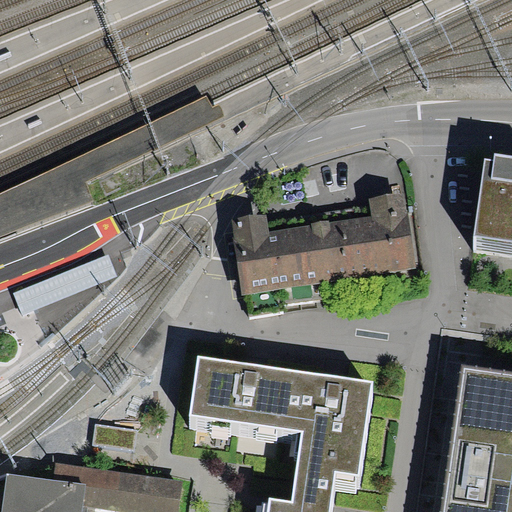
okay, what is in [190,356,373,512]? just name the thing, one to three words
building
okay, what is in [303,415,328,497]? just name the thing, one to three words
solar array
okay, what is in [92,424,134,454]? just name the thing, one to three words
shed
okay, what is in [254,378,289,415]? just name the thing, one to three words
solar array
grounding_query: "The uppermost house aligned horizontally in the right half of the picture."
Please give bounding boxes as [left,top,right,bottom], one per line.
[232,183,417,296]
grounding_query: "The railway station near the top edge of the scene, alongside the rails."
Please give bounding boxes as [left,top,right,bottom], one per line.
[0,0,505,190]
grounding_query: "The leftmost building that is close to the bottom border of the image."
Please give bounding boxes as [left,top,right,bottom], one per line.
[2,474,86,512]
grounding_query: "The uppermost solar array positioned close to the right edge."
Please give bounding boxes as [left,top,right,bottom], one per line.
[461,372,512,436]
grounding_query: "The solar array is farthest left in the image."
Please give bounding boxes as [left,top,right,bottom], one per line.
[210,372,234,408]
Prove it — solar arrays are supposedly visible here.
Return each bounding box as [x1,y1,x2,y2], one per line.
[303,415,328,497]
[210,372,234,408]
[450,504,507,512]
[461,372,512,436]
[492,484,508,500]
[254,378,289,415]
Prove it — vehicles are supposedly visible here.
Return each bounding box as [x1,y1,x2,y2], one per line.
[322,166,333,186]
[447,156,466,166]
[337,162,348,187]
[448,182,458,204]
